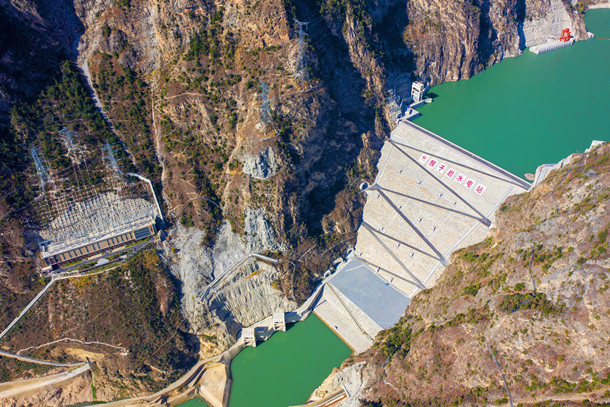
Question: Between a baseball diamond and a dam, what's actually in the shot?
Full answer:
The one in the frame is a dam.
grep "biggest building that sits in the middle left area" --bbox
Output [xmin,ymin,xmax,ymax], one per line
[40,215,157,268]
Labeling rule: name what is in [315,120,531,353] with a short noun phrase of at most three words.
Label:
dam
